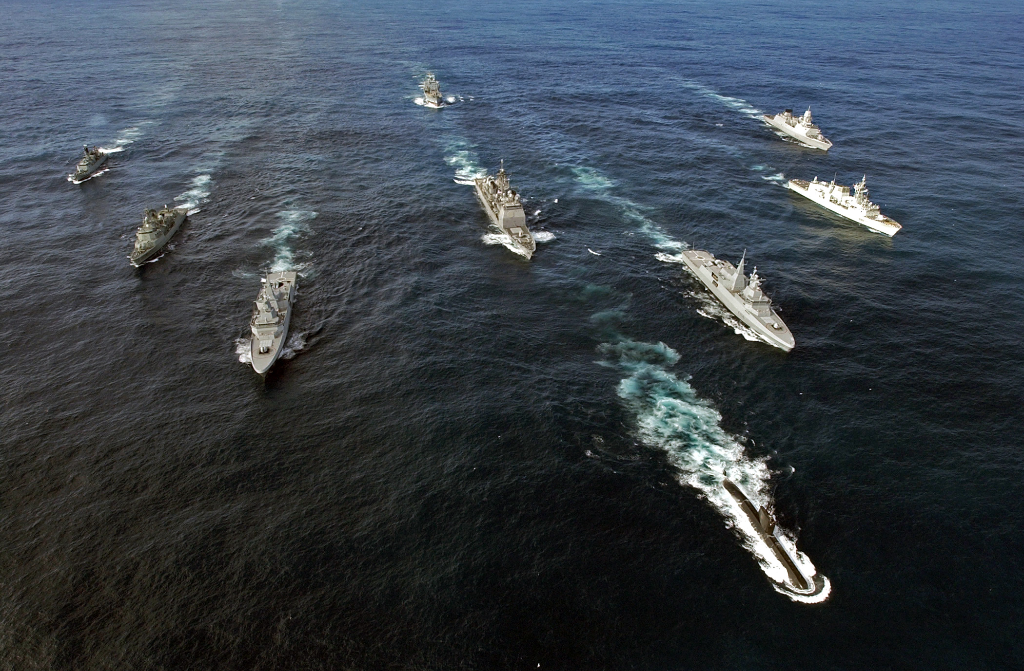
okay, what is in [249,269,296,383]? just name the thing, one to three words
ship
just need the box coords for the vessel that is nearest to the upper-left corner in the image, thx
[74,145,112,180]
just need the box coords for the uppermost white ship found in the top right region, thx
[760,107,833,152]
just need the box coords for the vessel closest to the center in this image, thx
[471,162,537,264]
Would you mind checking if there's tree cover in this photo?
No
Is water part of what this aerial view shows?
Yes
